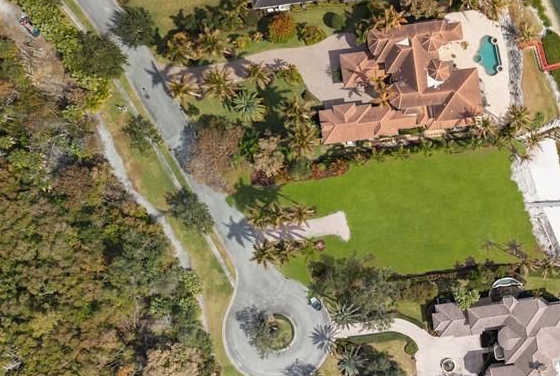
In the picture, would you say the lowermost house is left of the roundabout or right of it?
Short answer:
to the right of it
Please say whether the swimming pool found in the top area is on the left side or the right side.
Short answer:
right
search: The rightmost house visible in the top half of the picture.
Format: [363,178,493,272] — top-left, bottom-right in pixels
[319,20,484,144]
